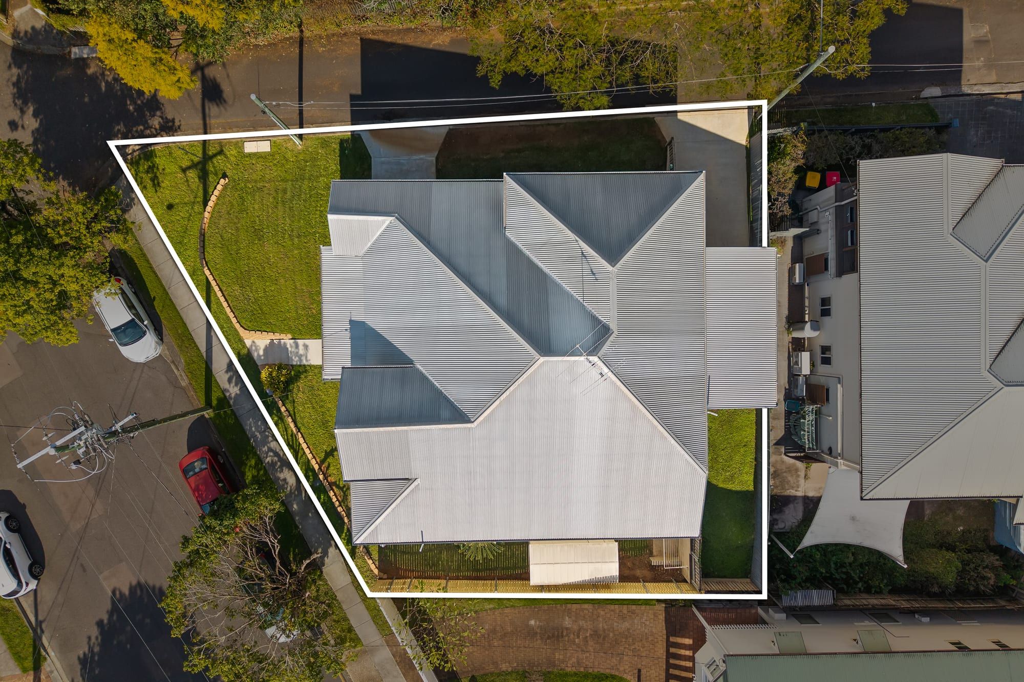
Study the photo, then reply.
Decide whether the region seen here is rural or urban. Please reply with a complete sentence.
The land in this view is best described as urban.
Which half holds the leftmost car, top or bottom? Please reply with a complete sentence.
You can find the leftmost car in the bottom half.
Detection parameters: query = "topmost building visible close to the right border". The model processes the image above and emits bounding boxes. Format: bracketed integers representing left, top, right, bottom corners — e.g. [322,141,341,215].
[797,152,1024,502]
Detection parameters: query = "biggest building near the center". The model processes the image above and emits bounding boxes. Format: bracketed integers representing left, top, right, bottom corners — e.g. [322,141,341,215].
[319,169,780,553]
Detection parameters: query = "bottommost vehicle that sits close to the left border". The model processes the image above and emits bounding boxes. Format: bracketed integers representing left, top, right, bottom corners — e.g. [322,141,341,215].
[0,513,42,604]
